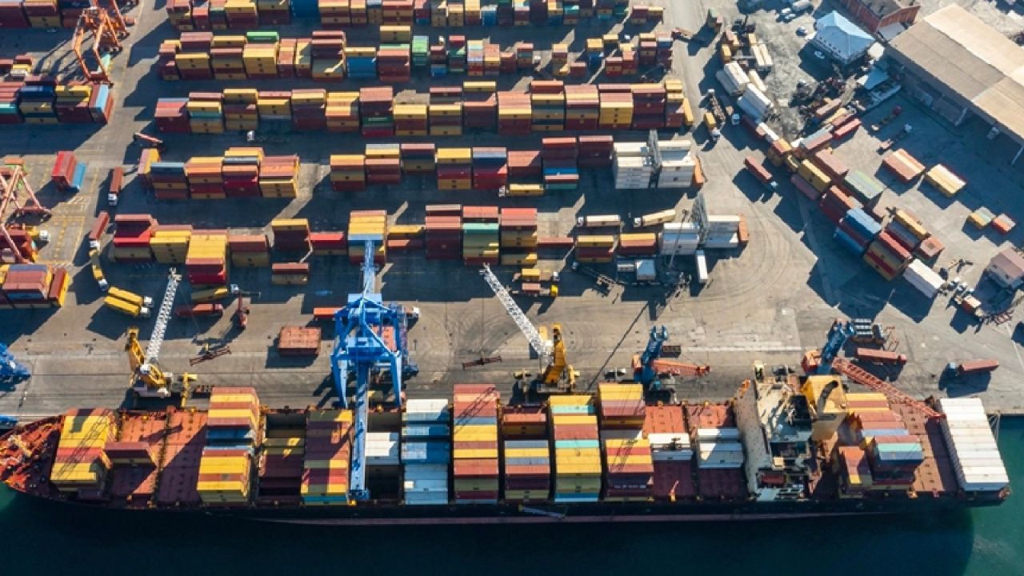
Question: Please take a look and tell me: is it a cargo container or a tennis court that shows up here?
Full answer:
There is a cargo container in the scene.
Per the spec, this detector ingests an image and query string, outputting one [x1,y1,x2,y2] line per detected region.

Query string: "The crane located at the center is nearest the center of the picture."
[480,264,587,400]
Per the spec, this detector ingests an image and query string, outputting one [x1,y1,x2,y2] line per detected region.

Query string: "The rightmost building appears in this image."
[986,252,1024,301]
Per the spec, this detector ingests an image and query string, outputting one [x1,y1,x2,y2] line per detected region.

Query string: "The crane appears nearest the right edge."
[788,320,946,422]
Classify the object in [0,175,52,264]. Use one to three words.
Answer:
container crane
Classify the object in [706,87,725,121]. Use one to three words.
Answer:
vehicle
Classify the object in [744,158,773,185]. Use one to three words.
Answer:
shipping container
